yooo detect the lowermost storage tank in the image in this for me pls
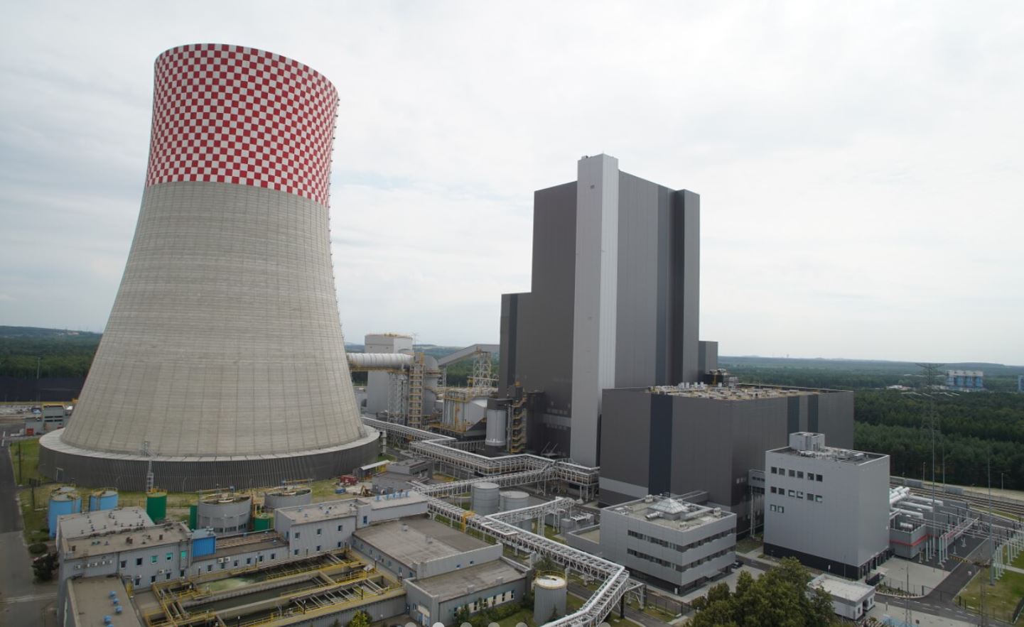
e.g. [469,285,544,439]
[531,563,570,623]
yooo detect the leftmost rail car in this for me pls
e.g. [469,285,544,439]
[905,476,932,488]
